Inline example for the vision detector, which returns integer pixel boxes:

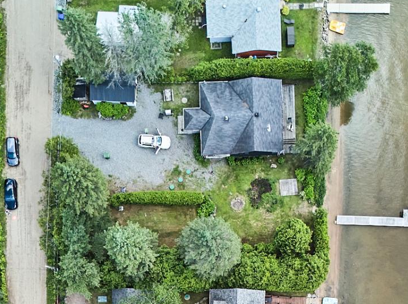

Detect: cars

[3,135,19,166]
[2,177,17,209]
[137,129,170,154]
